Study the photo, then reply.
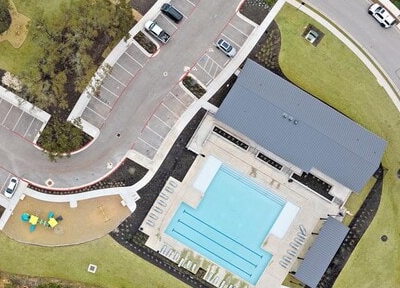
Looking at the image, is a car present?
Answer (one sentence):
Yes, this view includes a car.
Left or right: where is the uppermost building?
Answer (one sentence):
It is on the right.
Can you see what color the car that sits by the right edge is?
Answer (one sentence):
The car that sits by the right edge is white.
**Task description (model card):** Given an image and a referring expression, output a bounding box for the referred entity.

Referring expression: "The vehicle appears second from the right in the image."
[215,39,236,57]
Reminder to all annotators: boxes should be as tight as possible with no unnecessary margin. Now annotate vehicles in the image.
[368,6,394,27]
[160,3,183,23]
[143,21,170,44]
[4,176,20,199]
[215,39,236,57]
